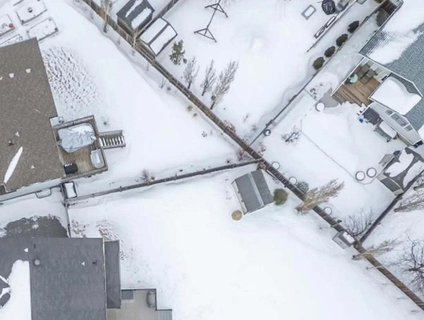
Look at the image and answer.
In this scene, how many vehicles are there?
0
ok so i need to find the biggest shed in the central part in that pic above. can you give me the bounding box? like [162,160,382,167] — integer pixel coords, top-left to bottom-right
[232,169,274,216]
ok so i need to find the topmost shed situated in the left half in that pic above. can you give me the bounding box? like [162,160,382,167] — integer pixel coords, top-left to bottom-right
[116,0,155,36]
